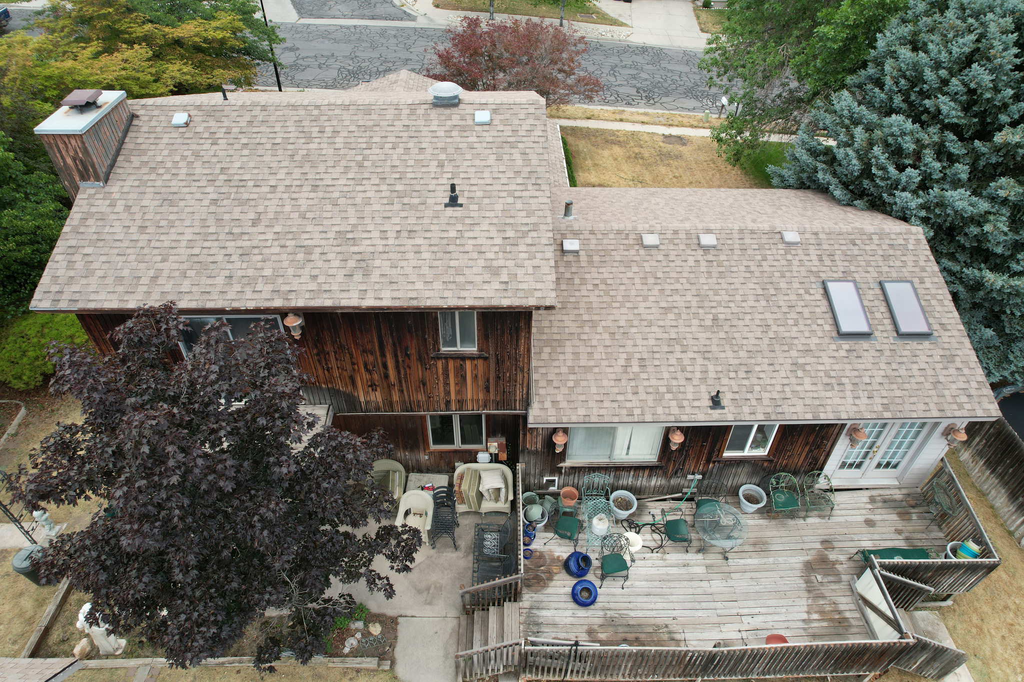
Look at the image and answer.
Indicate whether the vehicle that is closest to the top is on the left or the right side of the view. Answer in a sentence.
It is on the left.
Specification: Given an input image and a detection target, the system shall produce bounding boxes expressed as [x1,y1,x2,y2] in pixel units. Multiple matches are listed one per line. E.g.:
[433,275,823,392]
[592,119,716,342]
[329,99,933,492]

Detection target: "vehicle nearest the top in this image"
[0,7,20,31]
